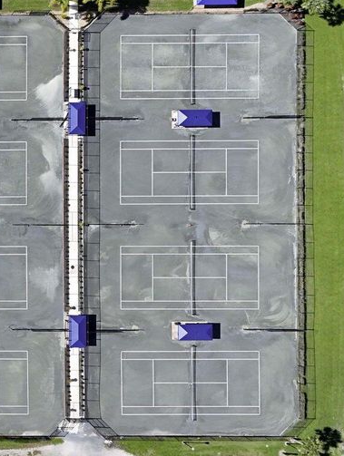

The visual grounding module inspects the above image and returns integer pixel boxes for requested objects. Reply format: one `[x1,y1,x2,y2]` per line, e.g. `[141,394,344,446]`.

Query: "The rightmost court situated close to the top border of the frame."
[85,14,296,120]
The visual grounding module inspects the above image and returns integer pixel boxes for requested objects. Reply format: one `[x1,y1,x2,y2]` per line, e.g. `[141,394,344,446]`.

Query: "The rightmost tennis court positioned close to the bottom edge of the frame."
[86,327,297,438]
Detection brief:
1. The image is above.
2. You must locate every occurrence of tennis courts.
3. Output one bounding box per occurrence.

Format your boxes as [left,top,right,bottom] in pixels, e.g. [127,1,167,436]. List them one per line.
[0,120,64,226]
[0,15,64,120]
[85,119,297,229]
[85,14,296,120]
[86,327,297,438]
[85,221,297,330]
[0,226,64,330]
[0,328,64,438]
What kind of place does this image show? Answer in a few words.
sports ground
